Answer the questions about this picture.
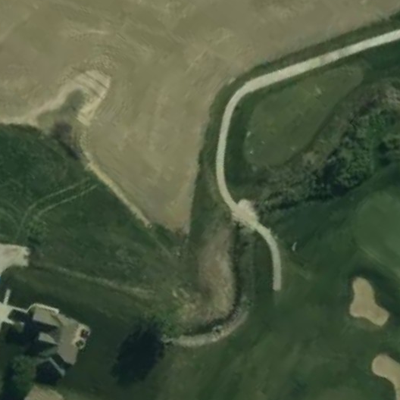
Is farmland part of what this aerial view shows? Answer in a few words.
Yes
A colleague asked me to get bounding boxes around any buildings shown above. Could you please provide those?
[28,308,82,383]
[22,382,62,400]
